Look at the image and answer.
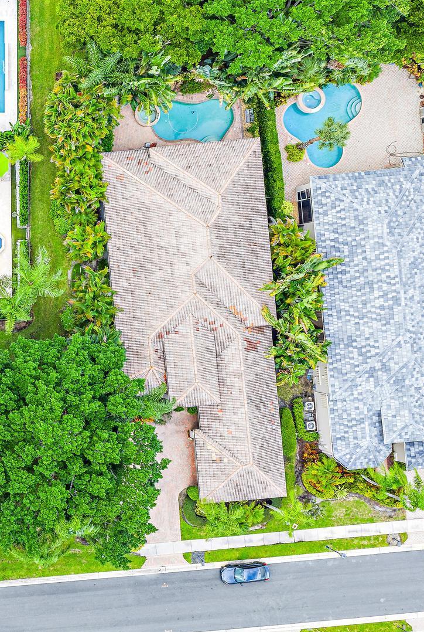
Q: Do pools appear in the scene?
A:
Yes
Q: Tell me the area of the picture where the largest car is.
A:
bottom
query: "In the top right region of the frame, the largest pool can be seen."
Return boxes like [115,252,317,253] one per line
[282,80,365,171]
